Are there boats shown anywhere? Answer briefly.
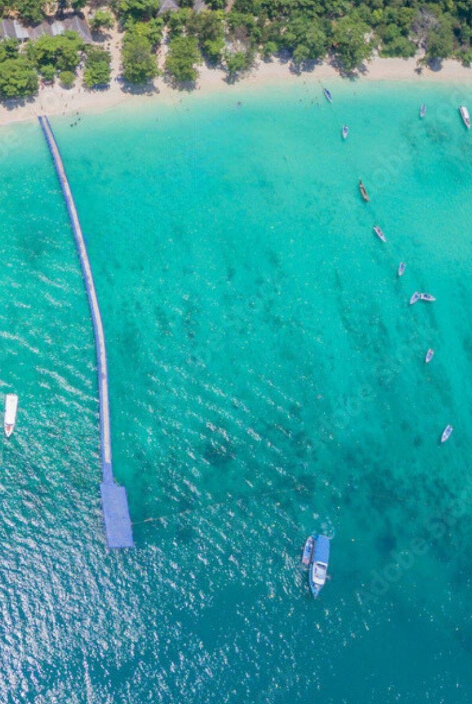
Yes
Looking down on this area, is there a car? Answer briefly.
No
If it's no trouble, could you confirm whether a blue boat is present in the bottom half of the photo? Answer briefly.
Yes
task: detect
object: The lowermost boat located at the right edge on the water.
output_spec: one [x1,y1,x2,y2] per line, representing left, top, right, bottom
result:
[441,422,455,443]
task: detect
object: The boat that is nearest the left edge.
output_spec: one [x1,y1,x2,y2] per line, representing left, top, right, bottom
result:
[5,391,17,437]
